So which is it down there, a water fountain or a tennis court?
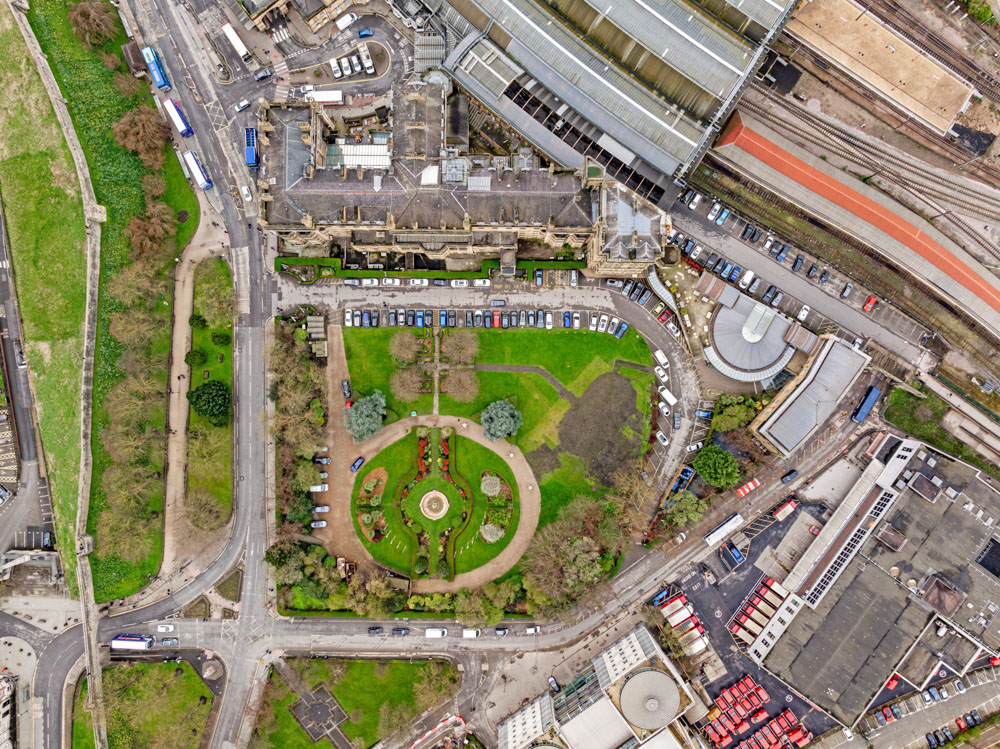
water fountain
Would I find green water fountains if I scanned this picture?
No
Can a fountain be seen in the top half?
No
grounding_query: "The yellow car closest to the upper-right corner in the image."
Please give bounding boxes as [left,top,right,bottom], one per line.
[651,301,666,315]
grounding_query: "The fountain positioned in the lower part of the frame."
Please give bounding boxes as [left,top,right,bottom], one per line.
[418,490,449,520]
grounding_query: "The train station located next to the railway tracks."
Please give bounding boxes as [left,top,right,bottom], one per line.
[440,0,812,213]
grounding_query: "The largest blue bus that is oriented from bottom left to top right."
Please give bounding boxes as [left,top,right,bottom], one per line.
[849,385,883,423]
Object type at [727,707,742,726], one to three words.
vehicle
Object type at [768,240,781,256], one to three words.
vehicle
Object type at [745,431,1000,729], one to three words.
building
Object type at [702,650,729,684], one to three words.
shed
